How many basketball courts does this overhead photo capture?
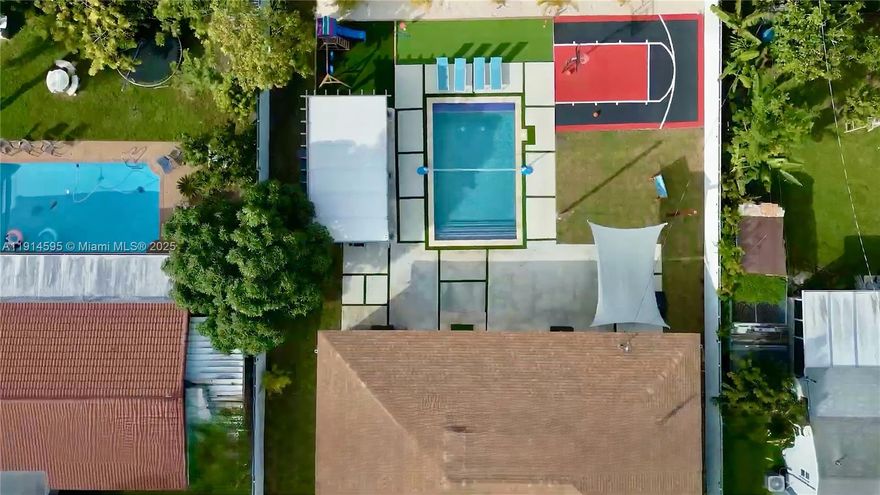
1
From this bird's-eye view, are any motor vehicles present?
No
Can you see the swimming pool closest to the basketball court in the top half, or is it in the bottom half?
top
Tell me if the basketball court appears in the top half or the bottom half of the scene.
top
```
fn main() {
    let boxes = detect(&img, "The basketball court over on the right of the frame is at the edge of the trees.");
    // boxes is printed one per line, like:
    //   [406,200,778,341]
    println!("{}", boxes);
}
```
[554,16,705,131]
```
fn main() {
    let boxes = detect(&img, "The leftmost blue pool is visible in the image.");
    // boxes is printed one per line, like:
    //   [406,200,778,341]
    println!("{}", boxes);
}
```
[0,141,188,252]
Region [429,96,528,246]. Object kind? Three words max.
swimming pool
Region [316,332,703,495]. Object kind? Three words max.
house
